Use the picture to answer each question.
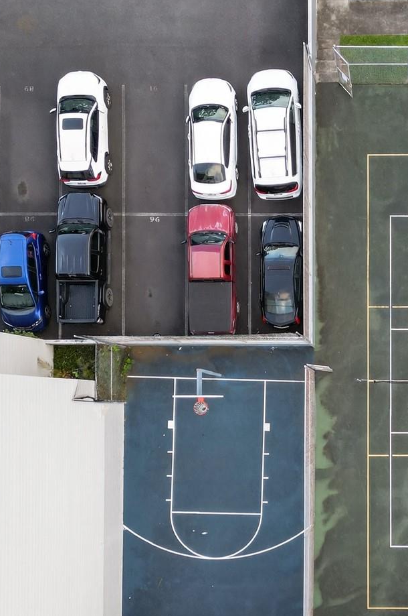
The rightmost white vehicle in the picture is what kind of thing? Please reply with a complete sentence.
What you see as the rightmost white vehicle is an automobile.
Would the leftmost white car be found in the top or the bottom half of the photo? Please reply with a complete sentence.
Seen from above, the leftmost white car lies in the top half of the view.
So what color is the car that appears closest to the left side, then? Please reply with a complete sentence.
The car that appears closest to the left side looks blue in the image.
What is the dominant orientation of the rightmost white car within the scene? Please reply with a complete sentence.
From this overhead view, the rightmost white car appears to run up and down.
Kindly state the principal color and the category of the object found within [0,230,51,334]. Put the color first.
blue car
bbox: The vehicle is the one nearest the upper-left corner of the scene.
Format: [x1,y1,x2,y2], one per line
[49,71,112,189]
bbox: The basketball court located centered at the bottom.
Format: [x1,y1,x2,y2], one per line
[121,345,316,616]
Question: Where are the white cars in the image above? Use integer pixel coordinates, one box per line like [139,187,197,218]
[49,71,112,189]
[243,69,300,201]
[182,78,239,202]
